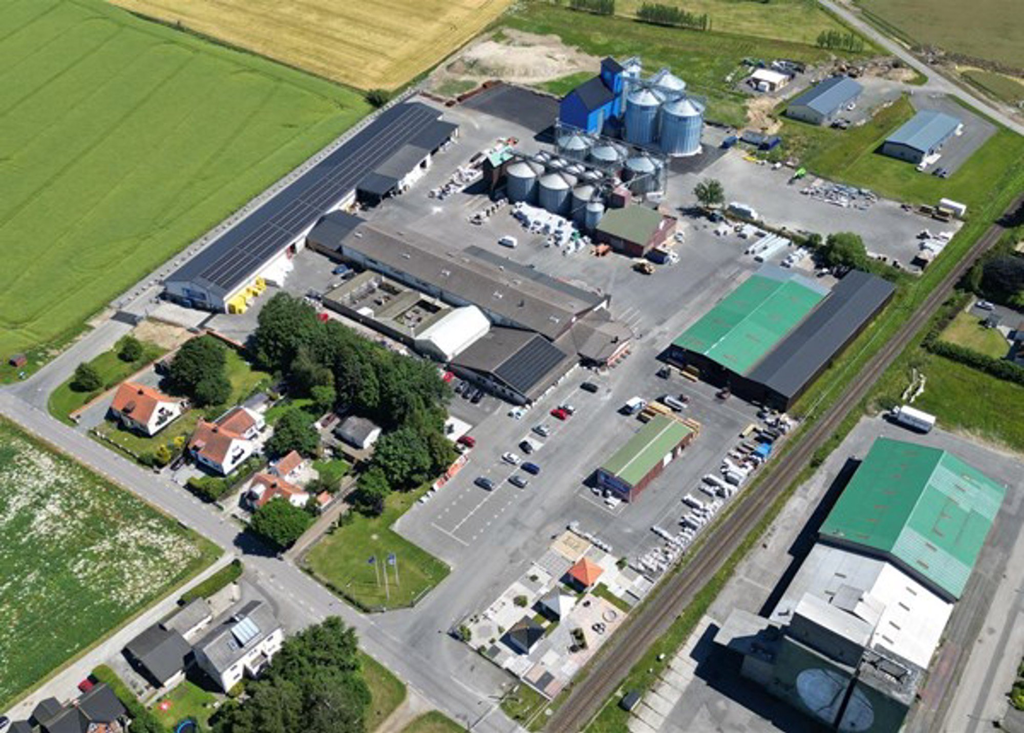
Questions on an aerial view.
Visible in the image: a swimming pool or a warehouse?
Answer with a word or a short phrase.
warehouse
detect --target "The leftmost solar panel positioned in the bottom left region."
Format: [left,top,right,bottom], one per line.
[233,620,260,646]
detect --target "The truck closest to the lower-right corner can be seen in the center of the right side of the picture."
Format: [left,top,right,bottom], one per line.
[889,404,941,435]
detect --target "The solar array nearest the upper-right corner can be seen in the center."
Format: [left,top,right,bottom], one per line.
[489,336,564,391]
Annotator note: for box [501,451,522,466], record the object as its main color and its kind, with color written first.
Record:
white car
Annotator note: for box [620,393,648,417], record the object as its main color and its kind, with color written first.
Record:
white truck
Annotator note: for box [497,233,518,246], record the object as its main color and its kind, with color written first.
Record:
white vehicle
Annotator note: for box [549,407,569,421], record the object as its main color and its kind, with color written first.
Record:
red car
